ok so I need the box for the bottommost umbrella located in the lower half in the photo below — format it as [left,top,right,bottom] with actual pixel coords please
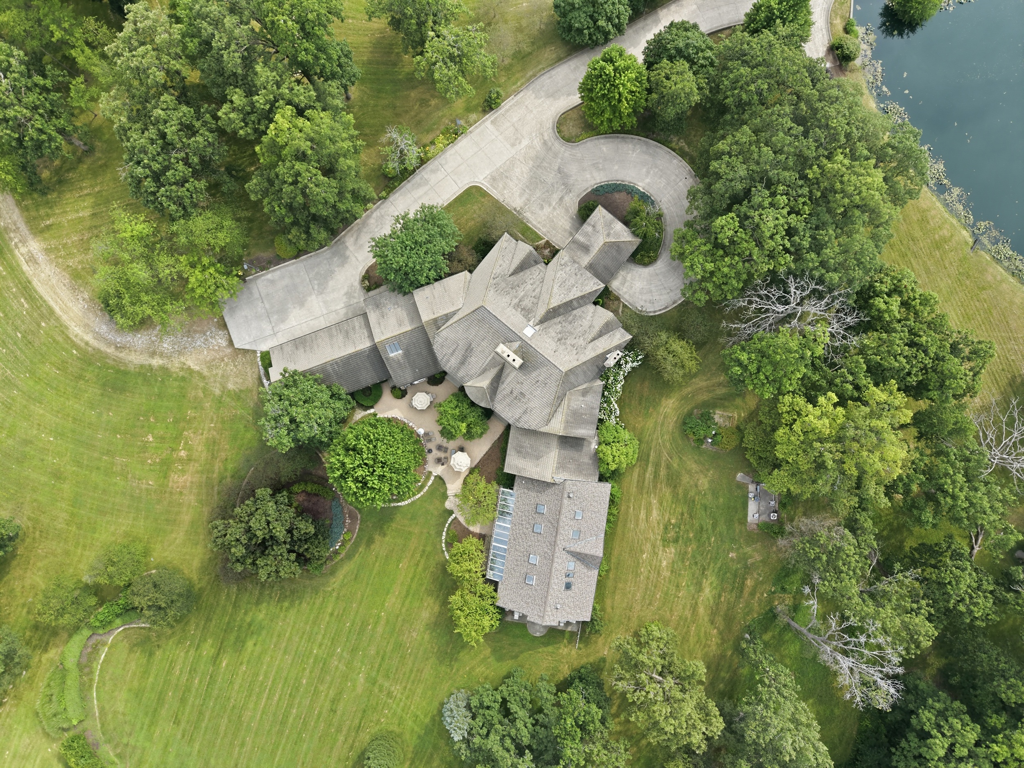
[450,451,471,472]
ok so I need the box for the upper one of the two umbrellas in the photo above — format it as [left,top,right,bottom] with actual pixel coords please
[412,392,430,410]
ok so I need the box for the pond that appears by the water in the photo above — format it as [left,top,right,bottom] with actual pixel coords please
[854,0,1024,285]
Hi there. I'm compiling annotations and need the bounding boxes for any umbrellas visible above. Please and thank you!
[450,451,471,472]
[412,392,430,410]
